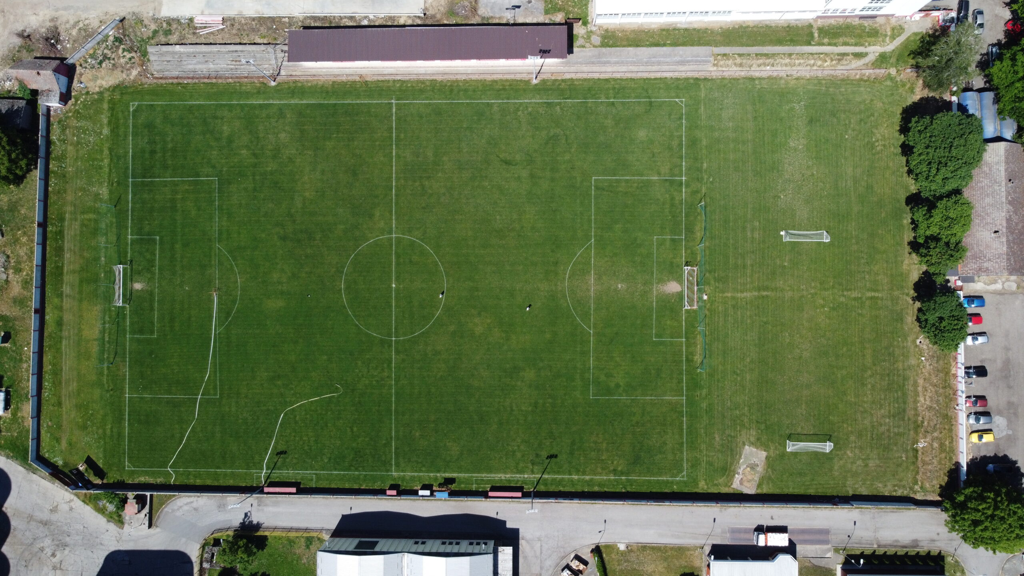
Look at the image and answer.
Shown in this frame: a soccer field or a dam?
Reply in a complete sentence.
Looking from above, you can make out a soccer field.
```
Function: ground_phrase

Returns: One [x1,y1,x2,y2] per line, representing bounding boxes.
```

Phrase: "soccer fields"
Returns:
[109,81,704,490]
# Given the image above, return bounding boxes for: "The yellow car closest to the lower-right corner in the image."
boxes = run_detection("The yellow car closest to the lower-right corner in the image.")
[969,431,997,444]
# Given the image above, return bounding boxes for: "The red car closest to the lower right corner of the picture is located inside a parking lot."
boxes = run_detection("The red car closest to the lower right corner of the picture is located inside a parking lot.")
[967,397,990,410]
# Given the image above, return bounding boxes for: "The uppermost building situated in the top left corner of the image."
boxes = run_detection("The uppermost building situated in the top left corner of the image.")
[9,61,70,106]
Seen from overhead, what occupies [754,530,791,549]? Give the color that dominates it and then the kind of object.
white vehicle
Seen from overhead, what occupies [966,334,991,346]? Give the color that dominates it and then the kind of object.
white vehicle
